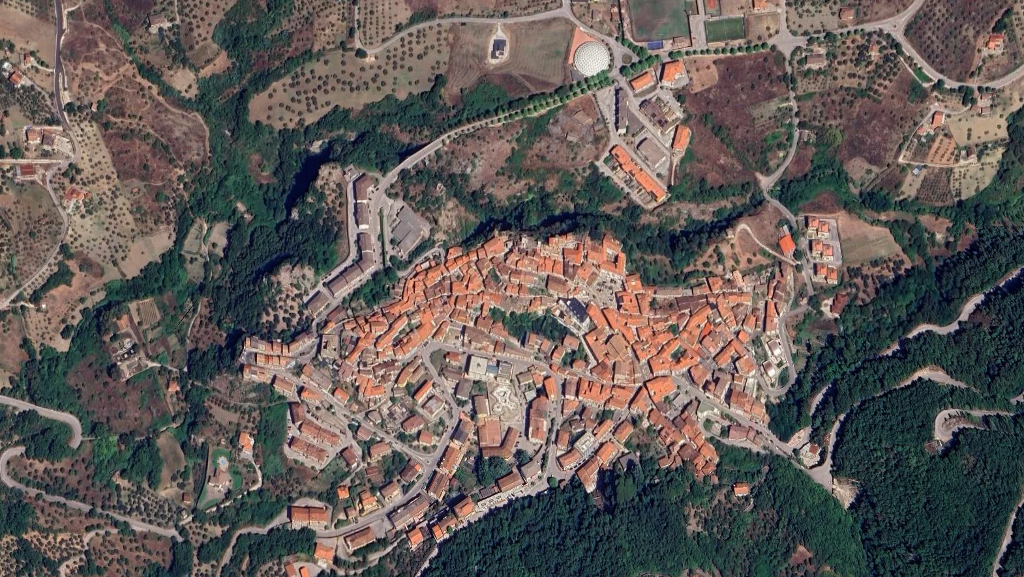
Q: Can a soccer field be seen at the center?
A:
No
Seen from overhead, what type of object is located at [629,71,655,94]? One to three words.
house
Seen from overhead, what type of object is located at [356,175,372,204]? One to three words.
building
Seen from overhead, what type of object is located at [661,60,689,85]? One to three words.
house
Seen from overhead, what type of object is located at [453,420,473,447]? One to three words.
building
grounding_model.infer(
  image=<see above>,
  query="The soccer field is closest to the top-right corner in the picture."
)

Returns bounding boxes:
[706,17,745,43]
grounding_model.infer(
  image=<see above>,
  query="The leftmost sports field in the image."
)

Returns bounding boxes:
[631,0,689,40]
